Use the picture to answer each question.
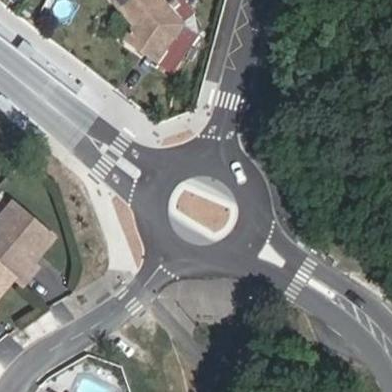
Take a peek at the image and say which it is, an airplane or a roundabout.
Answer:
roundabout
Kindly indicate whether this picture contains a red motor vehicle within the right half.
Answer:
No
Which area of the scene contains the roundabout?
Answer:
center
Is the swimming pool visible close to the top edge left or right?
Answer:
left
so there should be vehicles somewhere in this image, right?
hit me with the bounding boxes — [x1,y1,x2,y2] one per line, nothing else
[126,68,140,89]
[30,280,50,298]
[232,162,245,184]
[346,288,366,306]
[116,340,136,358]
